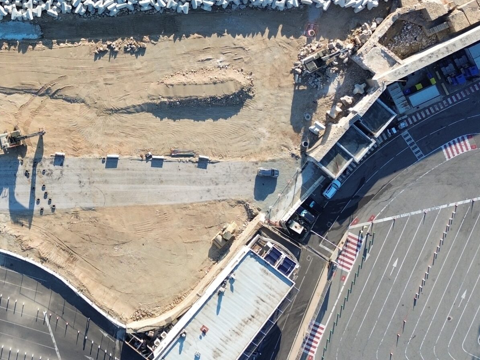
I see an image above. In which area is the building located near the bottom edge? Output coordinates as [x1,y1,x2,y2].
[153,232,301,360]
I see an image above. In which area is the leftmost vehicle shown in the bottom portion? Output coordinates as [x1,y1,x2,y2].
[212,222,235,250]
